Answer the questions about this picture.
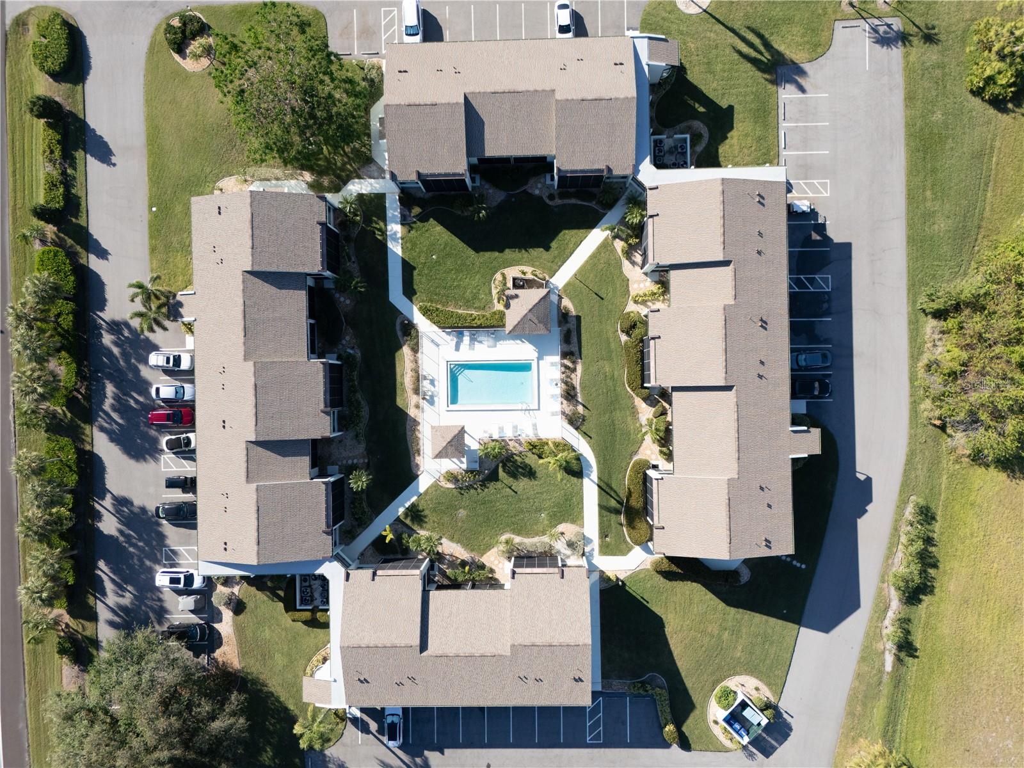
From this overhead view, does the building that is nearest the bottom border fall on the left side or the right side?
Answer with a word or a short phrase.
right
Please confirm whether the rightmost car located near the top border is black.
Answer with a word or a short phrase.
No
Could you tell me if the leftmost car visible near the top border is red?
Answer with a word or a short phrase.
No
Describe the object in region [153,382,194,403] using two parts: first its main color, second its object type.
white car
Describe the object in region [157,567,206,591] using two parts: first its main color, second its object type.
white car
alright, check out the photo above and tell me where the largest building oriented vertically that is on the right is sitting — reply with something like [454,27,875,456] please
[637,176,795,560]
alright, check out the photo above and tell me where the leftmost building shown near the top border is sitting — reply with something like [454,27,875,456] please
[384,35,635,196]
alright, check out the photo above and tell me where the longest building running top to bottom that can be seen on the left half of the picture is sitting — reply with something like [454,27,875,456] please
[191,191,347,565]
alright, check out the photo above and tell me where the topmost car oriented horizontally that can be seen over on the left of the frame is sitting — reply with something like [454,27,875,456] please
[148,350,194,372]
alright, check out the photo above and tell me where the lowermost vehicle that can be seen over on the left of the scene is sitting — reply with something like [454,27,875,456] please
[383,707,404,748]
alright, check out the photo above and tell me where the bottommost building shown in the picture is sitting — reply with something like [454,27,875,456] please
[712,683,785,759]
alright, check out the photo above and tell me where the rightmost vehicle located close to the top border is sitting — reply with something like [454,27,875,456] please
[554,0,575,37]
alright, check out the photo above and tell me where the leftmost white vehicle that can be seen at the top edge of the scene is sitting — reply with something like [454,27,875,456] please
[401,0,422,42]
